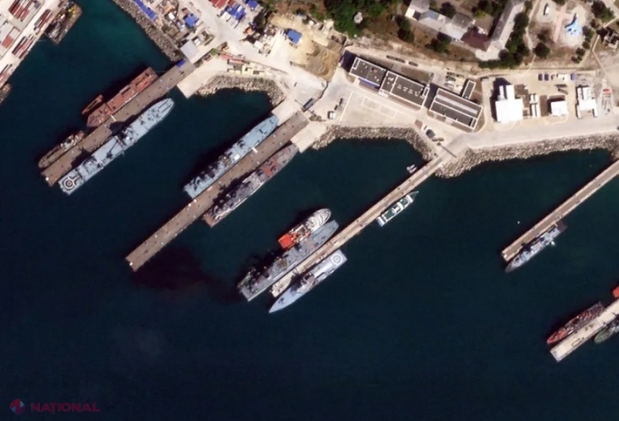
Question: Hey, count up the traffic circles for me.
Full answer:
The picture shows no traffic circles.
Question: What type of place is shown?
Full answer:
It's a port.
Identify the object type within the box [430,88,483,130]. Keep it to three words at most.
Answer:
building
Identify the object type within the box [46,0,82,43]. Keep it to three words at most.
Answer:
vessel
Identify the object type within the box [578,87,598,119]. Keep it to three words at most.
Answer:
building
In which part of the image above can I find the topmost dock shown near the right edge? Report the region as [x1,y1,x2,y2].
[502,160,619,261]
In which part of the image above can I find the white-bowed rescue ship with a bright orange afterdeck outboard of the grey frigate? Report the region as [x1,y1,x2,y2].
[278,210,330,250]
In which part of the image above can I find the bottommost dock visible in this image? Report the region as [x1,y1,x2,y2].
[549,299,619,362]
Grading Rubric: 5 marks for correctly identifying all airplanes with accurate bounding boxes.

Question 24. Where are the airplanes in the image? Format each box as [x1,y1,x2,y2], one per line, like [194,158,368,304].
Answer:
[565,13,579,36]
